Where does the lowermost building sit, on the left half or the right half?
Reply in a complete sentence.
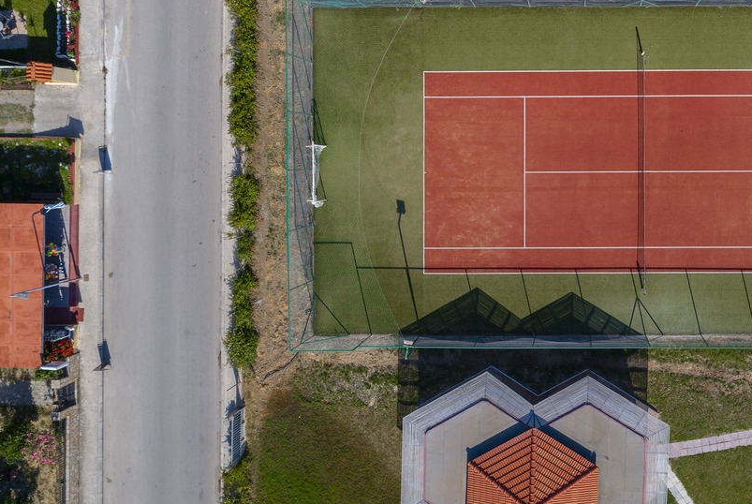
You can find the lowermost building on the right side of the picture.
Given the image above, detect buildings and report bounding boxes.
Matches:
[402,367,670,504]
[0,203,70,368]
